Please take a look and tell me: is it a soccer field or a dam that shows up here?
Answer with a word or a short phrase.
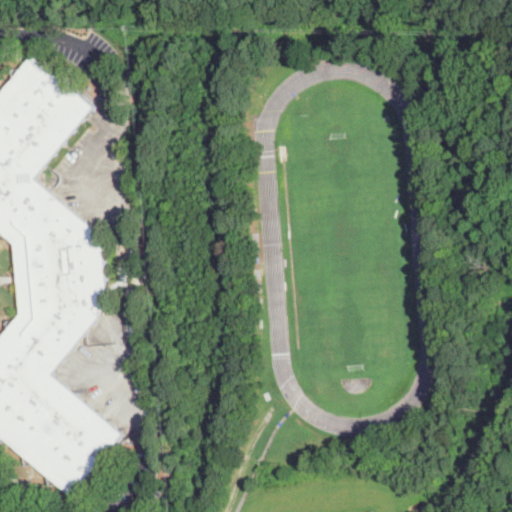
soccer field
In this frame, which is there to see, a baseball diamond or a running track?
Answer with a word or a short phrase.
running track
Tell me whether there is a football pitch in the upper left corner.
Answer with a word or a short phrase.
No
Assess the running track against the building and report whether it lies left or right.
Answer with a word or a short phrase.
right of it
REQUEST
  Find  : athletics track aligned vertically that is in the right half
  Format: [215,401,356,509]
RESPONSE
[251,58,438,436]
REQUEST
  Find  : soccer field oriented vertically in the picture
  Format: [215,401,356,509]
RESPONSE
[275,80,420,418]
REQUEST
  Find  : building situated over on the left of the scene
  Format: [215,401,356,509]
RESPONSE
[0,58,122,490]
